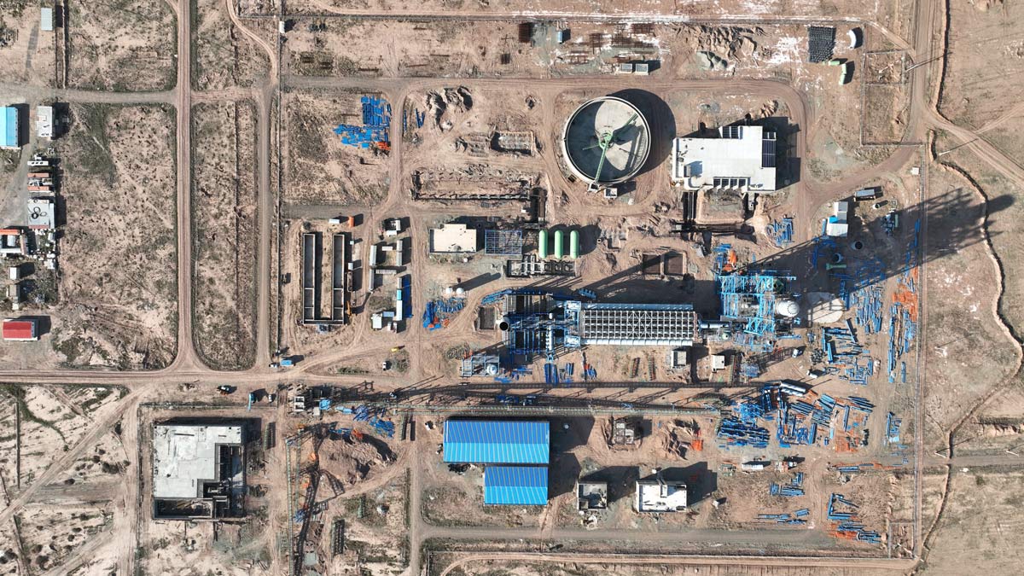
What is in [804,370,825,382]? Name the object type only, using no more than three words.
vehicle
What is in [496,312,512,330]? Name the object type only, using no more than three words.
chimney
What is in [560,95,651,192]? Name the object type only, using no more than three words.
storage tank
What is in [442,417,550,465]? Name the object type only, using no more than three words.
building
